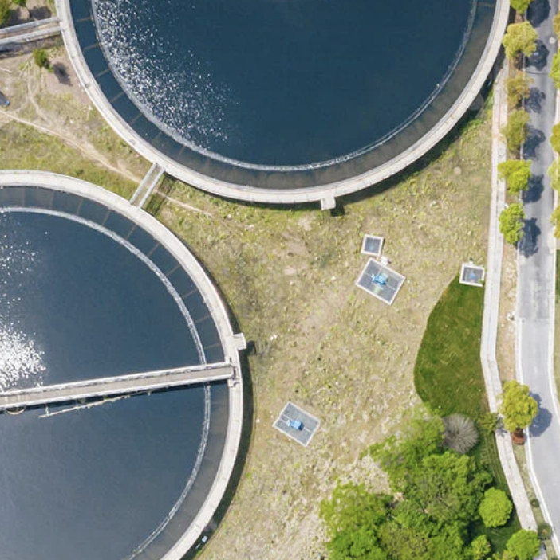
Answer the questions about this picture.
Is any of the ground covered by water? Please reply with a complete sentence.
Yes, there is water in the image.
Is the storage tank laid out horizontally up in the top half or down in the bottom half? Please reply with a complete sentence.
The top half of the photo is where the storage tank laid out horizontally is.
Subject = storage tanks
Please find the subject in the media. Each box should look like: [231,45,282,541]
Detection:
[0,170,248,560]
[57,0,510,215]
